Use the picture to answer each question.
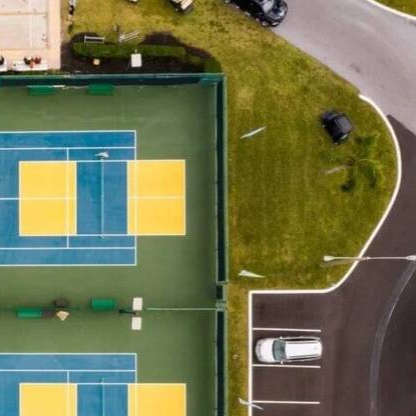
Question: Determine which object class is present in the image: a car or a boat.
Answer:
car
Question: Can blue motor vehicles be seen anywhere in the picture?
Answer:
No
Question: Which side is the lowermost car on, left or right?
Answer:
right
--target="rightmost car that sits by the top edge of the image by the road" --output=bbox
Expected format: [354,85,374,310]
[221,0,283,26]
